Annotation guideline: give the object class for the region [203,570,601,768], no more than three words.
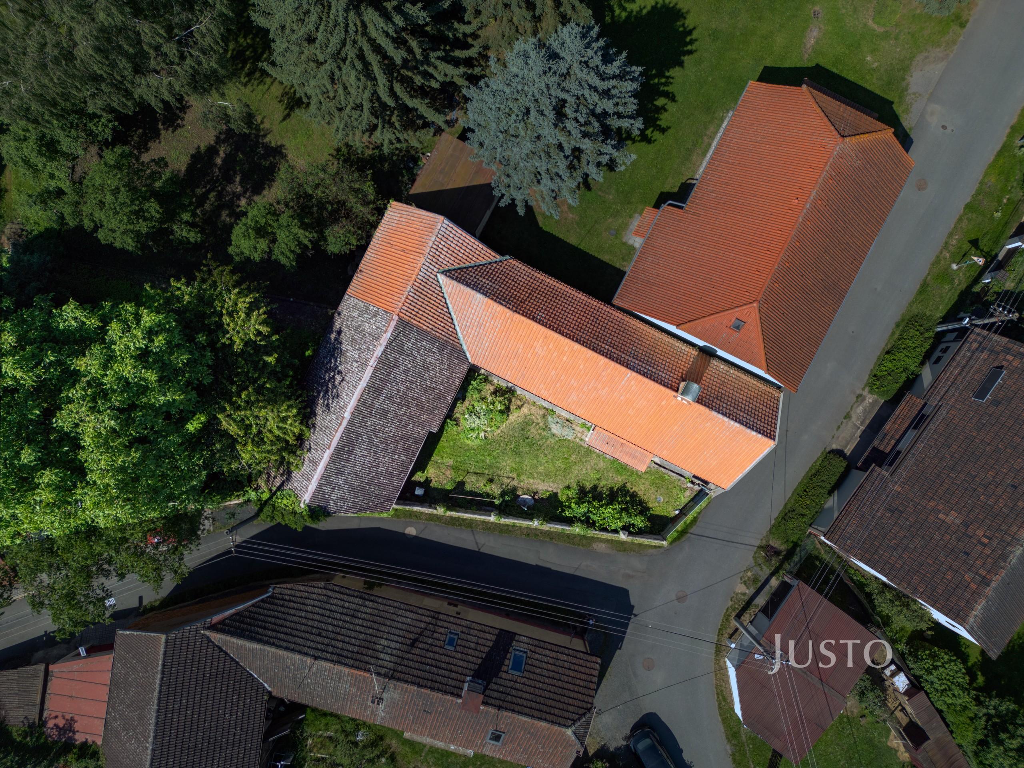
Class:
house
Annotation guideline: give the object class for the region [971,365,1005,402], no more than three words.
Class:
solar panel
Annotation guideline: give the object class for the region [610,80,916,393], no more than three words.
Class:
house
